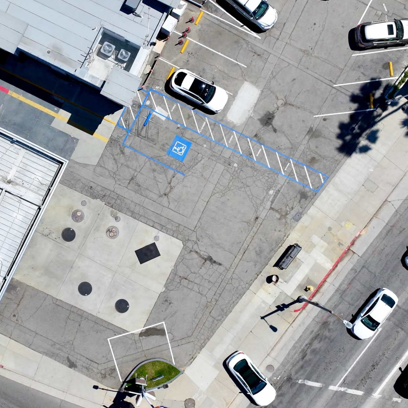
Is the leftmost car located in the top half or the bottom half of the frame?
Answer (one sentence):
The leftmost car sits in the top half of the picture.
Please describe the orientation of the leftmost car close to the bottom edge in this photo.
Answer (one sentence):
In this picture, the leftmost car close to the bottom edge lies on a diagonal.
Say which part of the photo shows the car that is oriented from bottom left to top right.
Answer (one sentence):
The car that is oriented from bottom left to top right appears toward the bottom right of the photo.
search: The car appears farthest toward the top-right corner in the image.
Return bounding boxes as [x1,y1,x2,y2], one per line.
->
[357,17,408,48]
